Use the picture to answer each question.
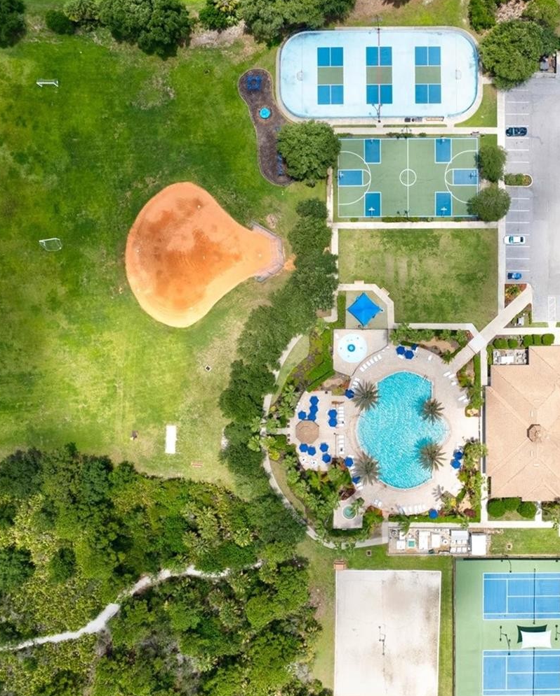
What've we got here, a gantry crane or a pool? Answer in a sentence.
Looking from above, you can make out a pool.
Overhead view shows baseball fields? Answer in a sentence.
Yes, the photo shows a baseball field.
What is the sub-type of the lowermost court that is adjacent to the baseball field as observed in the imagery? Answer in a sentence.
I'd identify the lowermost court that is adjacent to the baseball field as a basketball court.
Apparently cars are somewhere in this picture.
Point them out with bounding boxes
[506,127,527,136]
[504,235,525,244]
[507,272,522,279]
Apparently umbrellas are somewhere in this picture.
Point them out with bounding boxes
[404,349,414,360]
[328,418,339,427]
[453,450,462,460]
[307,445,317,455]
[322,453,332,463]
[450,459,460,468]
[297,409,308,420]
[395,345,404,355]
[299,443,309,452]
[352,474,362,484]
[309,404,319,413]
[319,442,329,452]
[310,395,319,404]
[345,388,355,398]
[328,409,339,418]
[427,508,438,519]
[344,456,354,467]
[308,411,317,420]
